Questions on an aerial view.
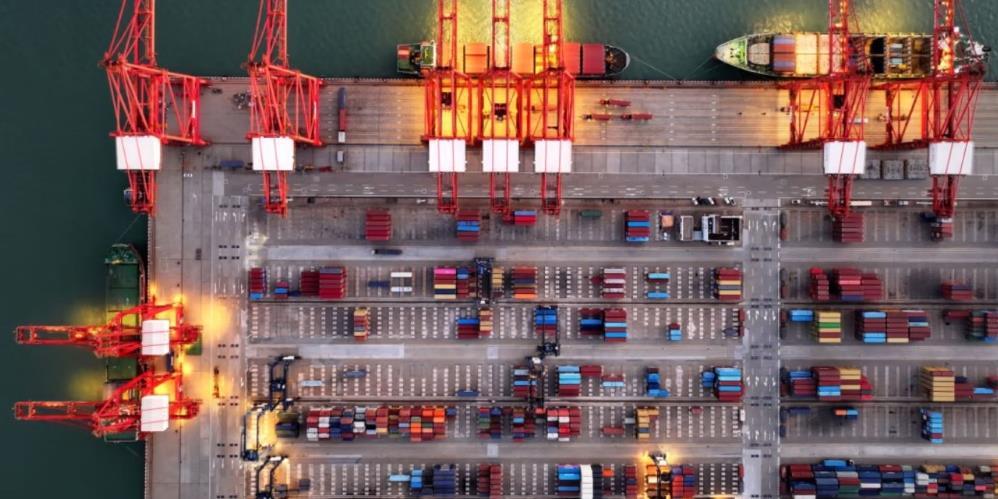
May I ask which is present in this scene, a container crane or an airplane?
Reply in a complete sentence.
Visible in the photo is a container crane.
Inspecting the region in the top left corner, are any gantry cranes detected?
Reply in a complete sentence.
Yes, a gantry crane is visible in the top left corner.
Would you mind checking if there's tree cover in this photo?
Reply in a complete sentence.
No, the scene doesn't show any tree cover.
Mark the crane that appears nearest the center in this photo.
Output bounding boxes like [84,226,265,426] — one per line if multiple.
[473,255,497,309]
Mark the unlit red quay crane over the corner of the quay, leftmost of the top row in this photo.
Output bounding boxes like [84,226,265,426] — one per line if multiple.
[103,0,207,213]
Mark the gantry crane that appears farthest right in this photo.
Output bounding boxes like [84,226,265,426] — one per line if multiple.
[871,0,990,213]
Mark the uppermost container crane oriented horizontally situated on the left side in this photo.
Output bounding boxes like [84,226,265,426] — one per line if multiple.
[17,301,204,356]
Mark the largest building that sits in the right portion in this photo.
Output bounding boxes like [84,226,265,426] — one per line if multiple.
[703,214,747,244]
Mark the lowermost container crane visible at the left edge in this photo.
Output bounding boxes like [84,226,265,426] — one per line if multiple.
[17,367,204,435]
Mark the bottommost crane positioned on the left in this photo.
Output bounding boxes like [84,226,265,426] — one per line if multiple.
[254,457,289,499]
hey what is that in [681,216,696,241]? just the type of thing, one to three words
building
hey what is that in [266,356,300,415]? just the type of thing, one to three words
crane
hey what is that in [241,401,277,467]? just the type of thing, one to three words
crane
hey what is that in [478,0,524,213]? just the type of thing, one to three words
container crane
